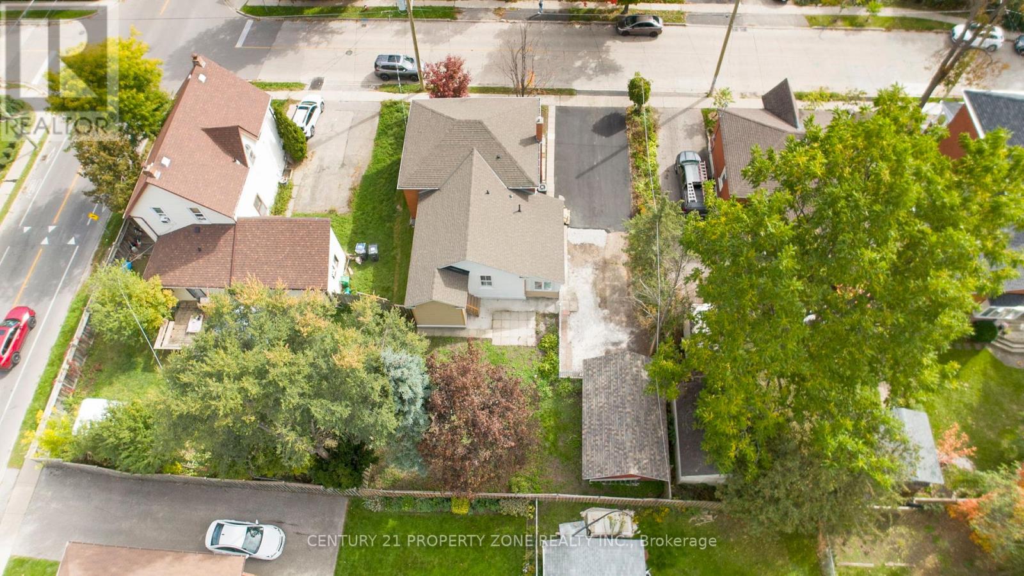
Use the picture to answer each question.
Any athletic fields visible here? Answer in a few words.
No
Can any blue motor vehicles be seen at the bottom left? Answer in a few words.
No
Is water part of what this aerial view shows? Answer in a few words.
No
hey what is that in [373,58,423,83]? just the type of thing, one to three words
car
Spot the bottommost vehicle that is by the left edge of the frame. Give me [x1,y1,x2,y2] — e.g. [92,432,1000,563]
[0,312,40,369]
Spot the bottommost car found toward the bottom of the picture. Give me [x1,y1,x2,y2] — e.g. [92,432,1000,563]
[205,522,286,560]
